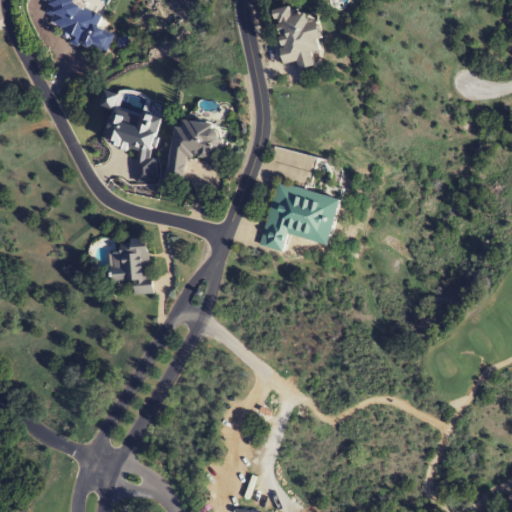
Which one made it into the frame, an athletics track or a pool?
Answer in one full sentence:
This aerial view contains a pool.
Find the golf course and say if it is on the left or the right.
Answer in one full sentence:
You can find the golf course on the right side of the picture.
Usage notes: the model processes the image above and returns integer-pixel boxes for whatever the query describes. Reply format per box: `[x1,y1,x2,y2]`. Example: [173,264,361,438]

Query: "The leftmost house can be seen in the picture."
[46,0,116,50]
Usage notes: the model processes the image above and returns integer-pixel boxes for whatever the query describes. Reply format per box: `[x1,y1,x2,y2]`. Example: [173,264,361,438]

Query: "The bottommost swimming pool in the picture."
[91,238,116,266]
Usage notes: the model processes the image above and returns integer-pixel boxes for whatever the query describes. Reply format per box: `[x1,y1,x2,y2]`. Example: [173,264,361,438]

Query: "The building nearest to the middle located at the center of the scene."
[260,184,342,252]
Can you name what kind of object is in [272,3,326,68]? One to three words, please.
house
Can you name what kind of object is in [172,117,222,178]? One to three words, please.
house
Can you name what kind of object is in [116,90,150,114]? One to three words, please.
swimming pool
